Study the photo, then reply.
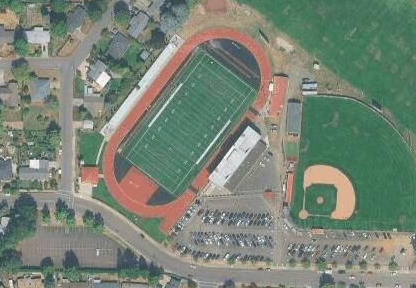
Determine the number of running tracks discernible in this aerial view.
1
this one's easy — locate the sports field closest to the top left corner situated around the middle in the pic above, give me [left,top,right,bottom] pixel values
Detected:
[122,48,257,197]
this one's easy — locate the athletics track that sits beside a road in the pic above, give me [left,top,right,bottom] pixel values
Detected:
[112,35,271,235]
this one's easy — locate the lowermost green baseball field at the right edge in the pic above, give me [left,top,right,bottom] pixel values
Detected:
[289,95,416,231]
